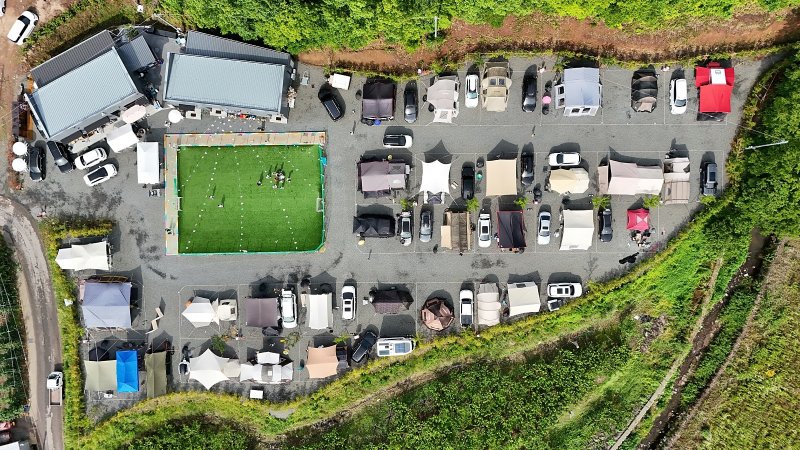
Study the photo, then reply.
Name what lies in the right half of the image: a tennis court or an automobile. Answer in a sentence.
The one visible in the right half of the image is an automobile.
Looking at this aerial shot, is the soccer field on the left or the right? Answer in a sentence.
The soccer field appears in the left half of the scene.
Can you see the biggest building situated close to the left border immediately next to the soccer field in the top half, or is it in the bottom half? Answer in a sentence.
Seen from above, the biggest building situated close to the left border immediately next to the soccer field lies in the top half of the view.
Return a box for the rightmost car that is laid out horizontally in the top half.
[548,151,581,167]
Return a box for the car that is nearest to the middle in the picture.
[397,212,413,245]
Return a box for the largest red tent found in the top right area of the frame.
[690,63,741,121]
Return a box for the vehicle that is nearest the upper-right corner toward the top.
[669,78,688,115]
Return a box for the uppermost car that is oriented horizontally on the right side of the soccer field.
[382,133,414,148]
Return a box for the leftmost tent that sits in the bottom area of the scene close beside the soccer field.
[76,275,143,335]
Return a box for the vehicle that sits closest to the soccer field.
[319,91,345,124]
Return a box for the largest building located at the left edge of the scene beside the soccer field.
[28,30,151,141]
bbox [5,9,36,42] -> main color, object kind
white car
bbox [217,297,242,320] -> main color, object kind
white tent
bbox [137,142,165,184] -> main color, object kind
white gazebo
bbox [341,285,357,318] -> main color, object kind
white car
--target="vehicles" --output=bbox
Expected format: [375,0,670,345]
[319,91,345,124]
[84,164,120,186]
[477,213,492,247]
[75,148,111,170]
[403,89,418,123]
[464,74,480,109]
[536,211,552,245]
[461,166,477,199]
[459,290,475,327]
[669,78,688,115]
[597,209,613,243]
[397,212,413,245]
[48,140,76,174]
[548,151,581,167]
[281,290,298,328]
[44,370,64,405]
[520,152,536,185]
[382,133,414,148]
[547,282,581,298]
[419,209,434,241]
[5,9,36,42]
[27,148,47,182]
[522,78,538,112]
[341,285,357,318]
[352,329,377,364]
[700,162,719,195]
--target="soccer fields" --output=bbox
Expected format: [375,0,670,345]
[165,132,326,255]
